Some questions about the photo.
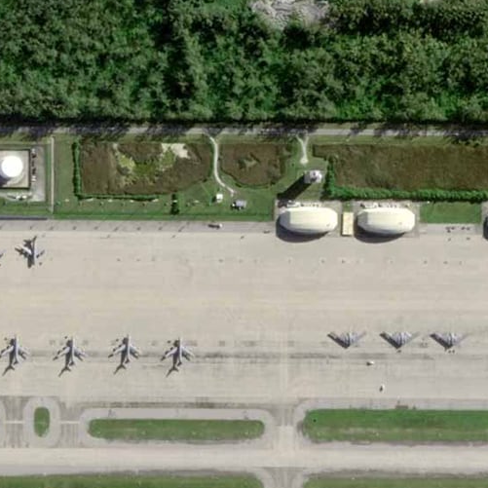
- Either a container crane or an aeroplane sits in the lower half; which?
aeroplane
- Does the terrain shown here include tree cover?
Yes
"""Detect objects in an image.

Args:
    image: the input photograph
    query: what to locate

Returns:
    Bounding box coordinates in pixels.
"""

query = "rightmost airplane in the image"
[433,332,468,347]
